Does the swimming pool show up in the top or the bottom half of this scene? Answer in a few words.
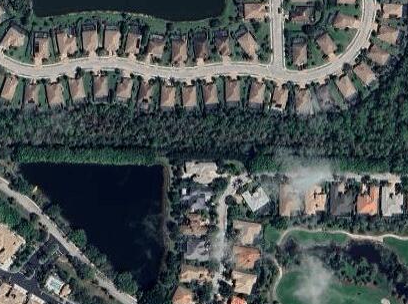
bottom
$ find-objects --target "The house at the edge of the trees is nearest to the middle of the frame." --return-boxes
[186,160,216,185]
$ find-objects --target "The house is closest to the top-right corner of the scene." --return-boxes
[383,3,408,18]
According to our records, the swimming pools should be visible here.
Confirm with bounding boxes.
[45,276,65,296]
